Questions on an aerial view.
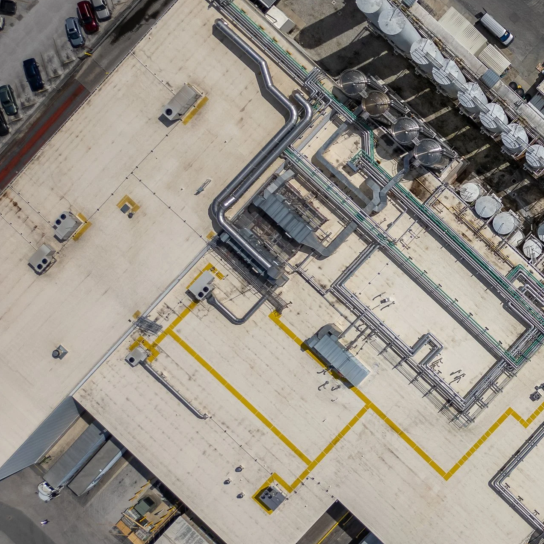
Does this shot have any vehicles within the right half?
Yes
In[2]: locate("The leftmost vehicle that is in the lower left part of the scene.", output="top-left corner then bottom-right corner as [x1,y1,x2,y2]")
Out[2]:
[36,474,76,503]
